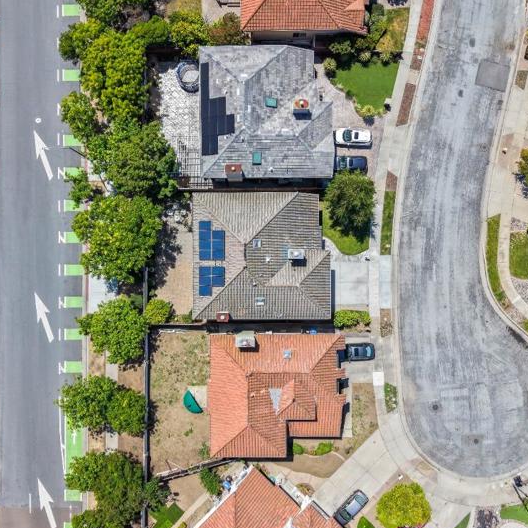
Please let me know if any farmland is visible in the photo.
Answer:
No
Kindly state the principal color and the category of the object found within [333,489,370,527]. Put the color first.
gray car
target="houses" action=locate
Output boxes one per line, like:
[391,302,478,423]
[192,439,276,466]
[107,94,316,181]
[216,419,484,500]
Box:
[194,462,345,528]
[199,44,334,178]
[240,0,371,40]
[209,329,346,459]
[191,190,332,322]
